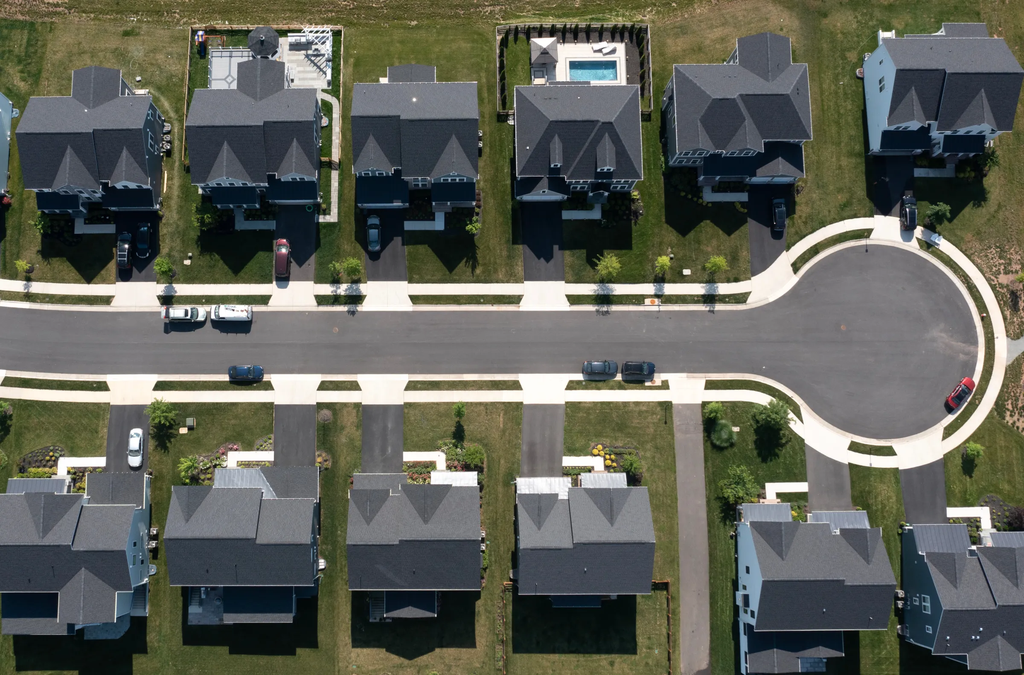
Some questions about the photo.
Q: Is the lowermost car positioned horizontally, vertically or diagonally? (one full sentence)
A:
From this overhead view, the lowermost car appears to run vertically.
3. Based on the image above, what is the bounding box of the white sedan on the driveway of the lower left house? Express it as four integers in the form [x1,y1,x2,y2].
[126,428,146,467]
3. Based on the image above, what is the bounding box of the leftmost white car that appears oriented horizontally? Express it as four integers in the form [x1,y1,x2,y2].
[160,305,207,323]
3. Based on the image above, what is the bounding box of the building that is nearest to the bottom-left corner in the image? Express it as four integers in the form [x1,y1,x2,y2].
[0,473,152,636]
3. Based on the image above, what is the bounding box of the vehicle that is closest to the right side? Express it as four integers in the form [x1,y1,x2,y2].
[944,375,974,409]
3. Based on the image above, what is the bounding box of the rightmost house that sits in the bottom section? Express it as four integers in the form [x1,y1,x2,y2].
[900,524,1024,673]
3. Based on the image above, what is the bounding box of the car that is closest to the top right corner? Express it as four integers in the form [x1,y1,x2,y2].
[898,196,920,232]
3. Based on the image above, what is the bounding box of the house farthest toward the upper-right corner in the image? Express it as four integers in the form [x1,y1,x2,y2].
[860,22,1024,160]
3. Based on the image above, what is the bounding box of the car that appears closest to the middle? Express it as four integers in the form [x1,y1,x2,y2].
[581,359,618,376]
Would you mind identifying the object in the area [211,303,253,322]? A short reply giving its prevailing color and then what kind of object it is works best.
white vehicle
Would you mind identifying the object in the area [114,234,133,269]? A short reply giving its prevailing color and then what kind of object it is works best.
black car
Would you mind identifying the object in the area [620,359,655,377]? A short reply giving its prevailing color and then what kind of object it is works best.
black car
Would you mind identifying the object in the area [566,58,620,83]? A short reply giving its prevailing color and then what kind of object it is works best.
blue swimming pool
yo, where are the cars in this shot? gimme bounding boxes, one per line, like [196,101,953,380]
[365,216,382,252]
[769,198,788,231]
[134,223,153,258]
[114,234,133,269]
[273,240,292,278]
[944,375,974,409]
[581,359,618,376]
[160,305,207,323]
[126,428,146,467]
[228,363,265,381]
[620,359,655,377]
[898,196,920,232]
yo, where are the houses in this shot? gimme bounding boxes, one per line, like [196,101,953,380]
[860,22,1024,160]
[0,473,152,636]
[900,524,1024,673]
[347,471,481,622]
[185,58,322,211]
[515,473,656,608]
[659,33,813,183]
[164,467,320,623]
[514,78,644,207]
[16,66,166,216]
[349,62,479,209]
[732,503,897,675]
